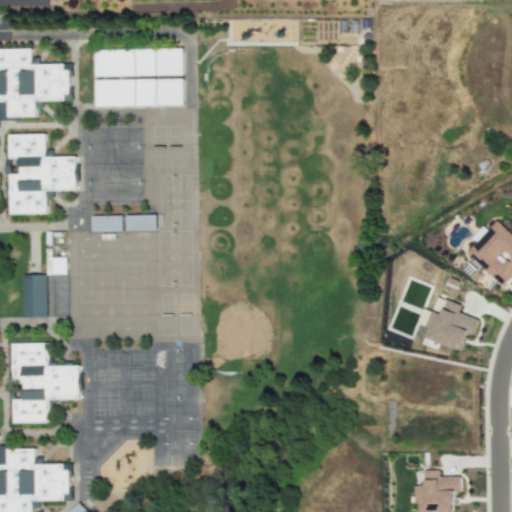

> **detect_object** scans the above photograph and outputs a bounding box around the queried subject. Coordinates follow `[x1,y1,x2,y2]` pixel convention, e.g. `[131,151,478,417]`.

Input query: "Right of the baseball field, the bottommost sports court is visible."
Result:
[394,308,420,335]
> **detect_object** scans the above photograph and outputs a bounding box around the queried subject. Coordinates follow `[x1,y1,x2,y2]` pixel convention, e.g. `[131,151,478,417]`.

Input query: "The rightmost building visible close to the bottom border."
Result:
[414,470,462,512]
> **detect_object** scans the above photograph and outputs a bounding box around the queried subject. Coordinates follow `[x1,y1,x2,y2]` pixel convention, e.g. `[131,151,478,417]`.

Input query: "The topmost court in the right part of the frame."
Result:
[404,281,430,308]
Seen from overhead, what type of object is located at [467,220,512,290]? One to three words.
house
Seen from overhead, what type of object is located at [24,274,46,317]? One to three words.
building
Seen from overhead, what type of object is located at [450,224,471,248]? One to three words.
swimming pool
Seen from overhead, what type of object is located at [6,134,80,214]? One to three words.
building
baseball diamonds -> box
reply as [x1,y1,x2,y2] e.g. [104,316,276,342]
[216,302,272,374]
